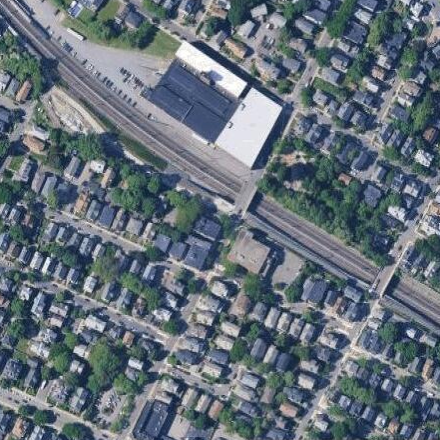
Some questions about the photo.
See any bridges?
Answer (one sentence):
Yes, there's a bridge down there.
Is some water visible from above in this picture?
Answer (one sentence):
No, water can't be seen anywhere here.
